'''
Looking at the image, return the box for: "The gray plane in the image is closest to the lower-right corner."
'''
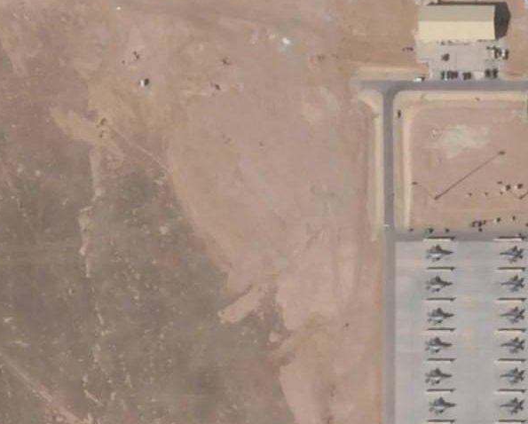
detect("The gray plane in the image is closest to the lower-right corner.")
[500,398,521,415]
